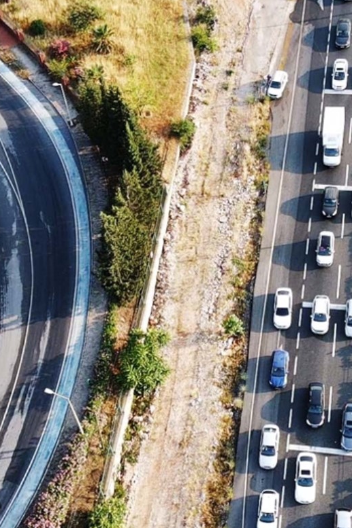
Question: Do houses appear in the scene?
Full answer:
No, there isn't any house down there.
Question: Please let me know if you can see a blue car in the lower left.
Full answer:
No, looking in the lower left, there is no blue car.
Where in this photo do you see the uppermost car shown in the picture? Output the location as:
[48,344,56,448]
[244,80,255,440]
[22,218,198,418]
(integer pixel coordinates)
[333,20,352,48]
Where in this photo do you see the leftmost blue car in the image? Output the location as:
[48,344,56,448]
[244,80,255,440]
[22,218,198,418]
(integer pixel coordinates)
[267,347,292,393]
